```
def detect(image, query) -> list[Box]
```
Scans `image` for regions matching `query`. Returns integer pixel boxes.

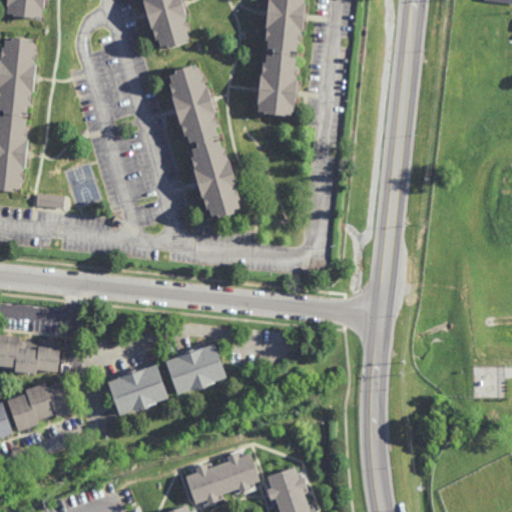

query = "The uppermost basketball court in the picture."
[66,164,102,206]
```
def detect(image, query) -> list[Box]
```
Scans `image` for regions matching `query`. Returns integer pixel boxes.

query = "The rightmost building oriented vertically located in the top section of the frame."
[257,0,306,117]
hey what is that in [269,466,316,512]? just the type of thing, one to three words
house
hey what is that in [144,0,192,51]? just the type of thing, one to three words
building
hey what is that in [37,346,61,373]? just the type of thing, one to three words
house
